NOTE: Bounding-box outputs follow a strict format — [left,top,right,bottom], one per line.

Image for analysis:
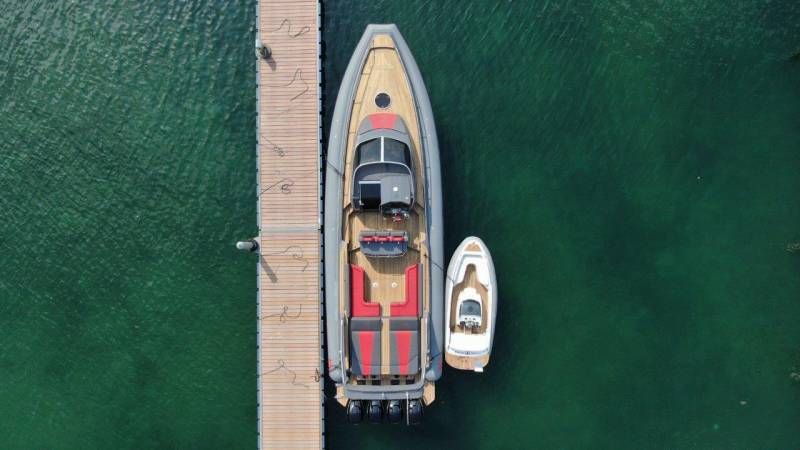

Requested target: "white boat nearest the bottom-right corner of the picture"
[445,236,498,372]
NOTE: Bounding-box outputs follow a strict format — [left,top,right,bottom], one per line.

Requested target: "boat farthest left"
[324,23,445,425]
